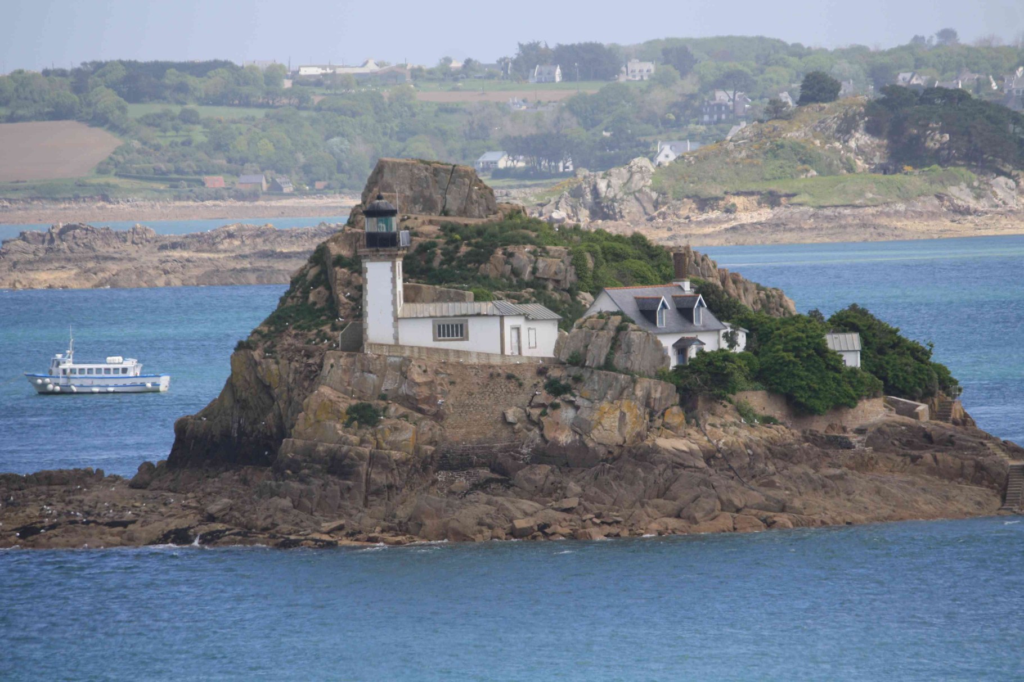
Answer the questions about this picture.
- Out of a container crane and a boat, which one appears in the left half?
boat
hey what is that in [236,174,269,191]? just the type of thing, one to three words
barn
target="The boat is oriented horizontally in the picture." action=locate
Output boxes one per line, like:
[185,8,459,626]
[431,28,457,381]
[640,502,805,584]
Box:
[12,325,172,393]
